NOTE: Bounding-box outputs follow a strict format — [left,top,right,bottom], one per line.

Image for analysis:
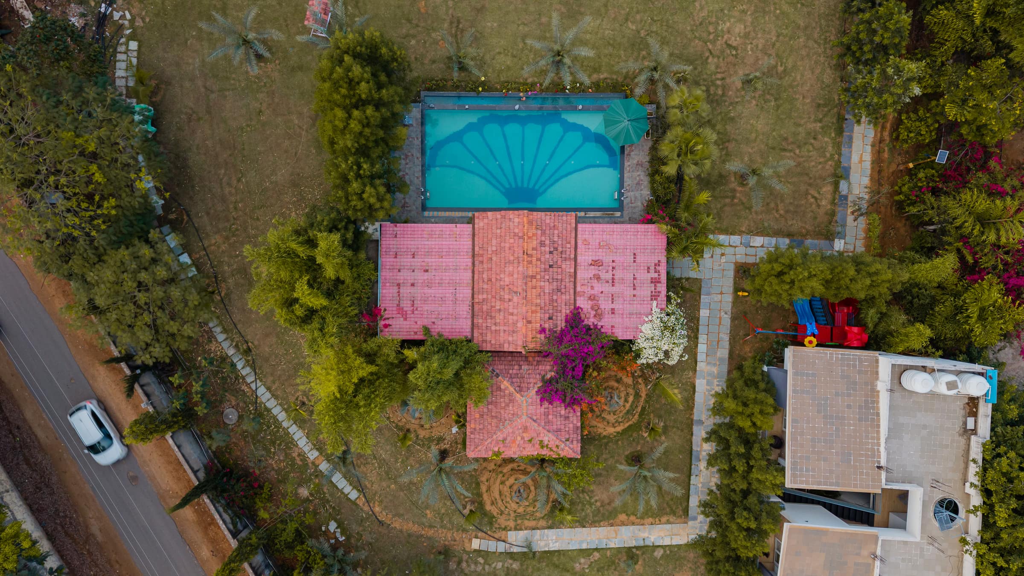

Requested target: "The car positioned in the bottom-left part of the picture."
[62,399,128,469]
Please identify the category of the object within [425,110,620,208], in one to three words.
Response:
swimming pool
